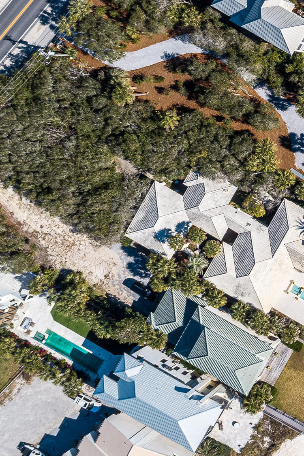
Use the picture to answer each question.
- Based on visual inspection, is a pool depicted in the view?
Yes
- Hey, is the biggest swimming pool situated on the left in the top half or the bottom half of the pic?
bottom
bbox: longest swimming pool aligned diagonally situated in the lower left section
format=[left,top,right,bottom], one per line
[42,328,107,375]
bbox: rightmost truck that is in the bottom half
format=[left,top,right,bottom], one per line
[125,281,156,304]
